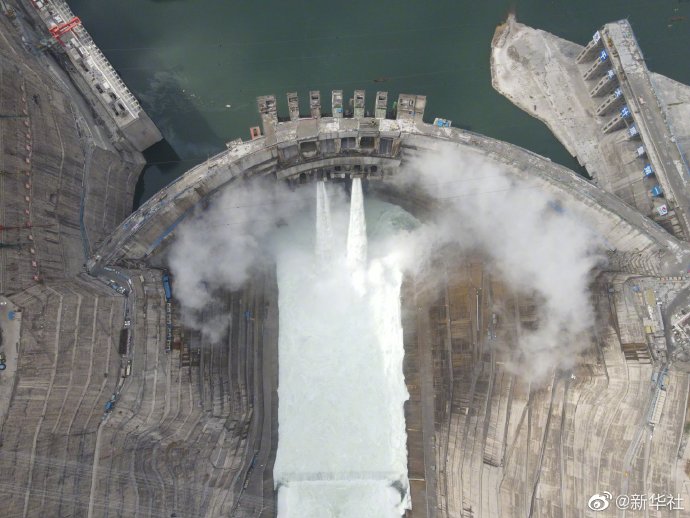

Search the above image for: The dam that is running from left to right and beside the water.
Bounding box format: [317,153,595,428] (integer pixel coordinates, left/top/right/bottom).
[90,92,687,273]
